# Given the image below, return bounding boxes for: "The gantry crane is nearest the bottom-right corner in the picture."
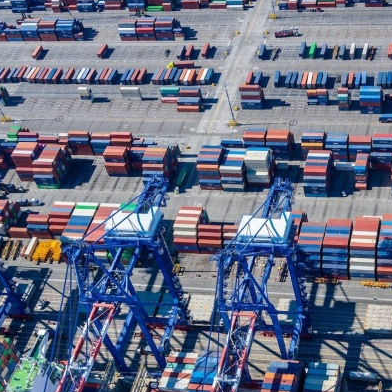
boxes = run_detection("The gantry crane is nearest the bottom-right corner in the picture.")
[200,181,312,392]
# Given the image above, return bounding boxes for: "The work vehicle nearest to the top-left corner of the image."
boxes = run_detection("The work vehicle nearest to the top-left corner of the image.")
[15,8,30,24]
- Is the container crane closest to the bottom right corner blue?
Yes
